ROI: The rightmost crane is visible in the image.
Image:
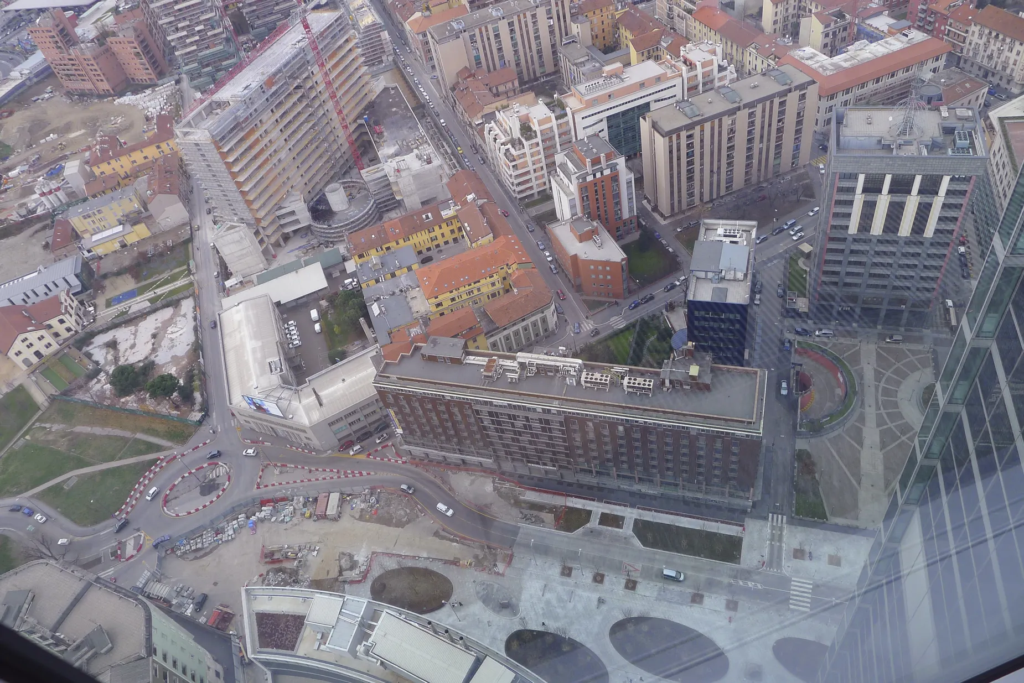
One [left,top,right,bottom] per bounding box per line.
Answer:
[297,0,368,171]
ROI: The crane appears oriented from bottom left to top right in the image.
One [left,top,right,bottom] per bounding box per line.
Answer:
[173,0,323,122]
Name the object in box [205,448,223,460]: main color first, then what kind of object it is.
gray vehicle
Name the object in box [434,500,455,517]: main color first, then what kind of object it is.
white vehicle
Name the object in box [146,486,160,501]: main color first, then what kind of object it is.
white car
